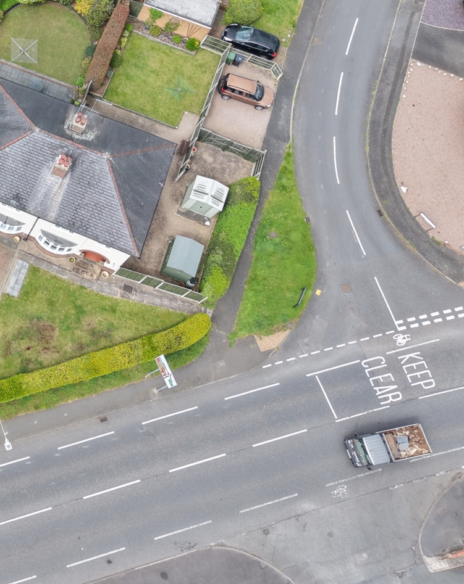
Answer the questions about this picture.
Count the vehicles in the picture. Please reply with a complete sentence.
Looking from above, you can make out 3 vehicles.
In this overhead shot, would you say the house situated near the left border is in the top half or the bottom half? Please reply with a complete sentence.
It is in the top half that the house situated near the left border appears.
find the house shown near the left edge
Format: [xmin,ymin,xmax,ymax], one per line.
[0,75,178,271]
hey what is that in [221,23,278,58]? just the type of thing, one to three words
car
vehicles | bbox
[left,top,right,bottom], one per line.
[337,422,434,471]
[221,23,278,58]
[218,72,274,109]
